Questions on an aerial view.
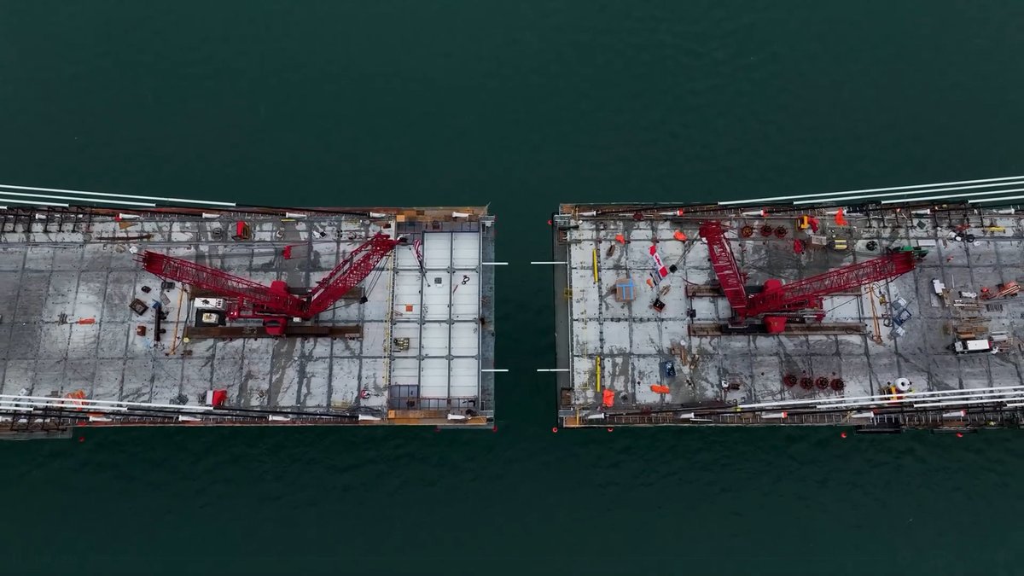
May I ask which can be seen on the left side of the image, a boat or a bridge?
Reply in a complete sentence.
The feature located on the left side of the image is a bridge.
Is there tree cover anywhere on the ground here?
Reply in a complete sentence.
No, there's no tree cover in this view.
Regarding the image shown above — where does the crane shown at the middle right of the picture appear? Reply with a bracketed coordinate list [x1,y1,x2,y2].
[668,214,920,335]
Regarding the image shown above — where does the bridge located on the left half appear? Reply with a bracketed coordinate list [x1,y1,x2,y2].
[0,184,509,441]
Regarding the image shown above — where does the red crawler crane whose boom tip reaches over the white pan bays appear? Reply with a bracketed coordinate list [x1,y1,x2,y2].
[133,232,426,336]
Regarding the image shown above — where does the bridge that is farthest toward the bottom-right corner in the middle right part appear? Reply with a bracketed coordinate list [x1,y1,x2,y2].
[530,176,1024,438]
